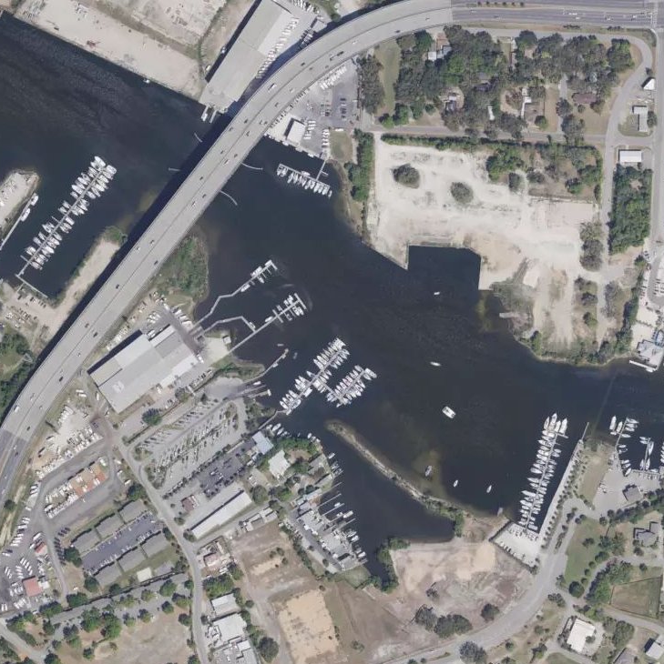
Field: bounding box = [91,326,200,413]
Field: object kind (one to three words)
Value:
building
